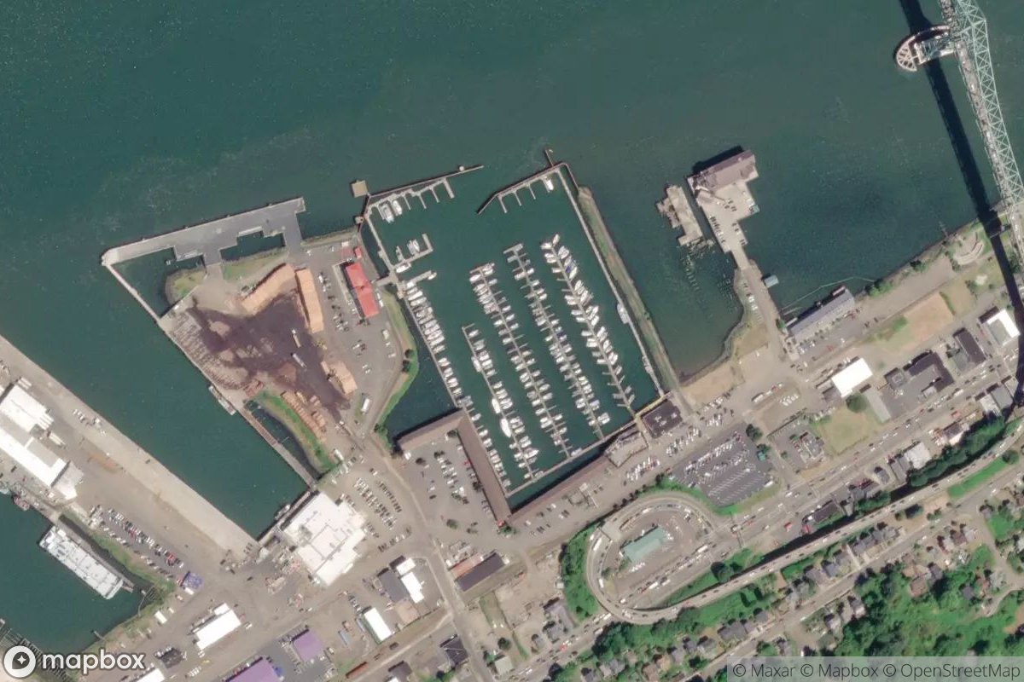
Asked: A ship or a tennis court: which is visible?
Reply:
ship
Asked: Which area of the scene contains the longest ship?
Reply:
bottom left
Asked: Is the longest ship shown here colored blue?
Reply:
No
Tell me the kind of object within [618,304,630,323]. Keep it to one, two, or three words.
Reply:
boat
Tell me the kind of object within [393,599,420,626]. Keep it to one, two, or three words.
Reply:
shed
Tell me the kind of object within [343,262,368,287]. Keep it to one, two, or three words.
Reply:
building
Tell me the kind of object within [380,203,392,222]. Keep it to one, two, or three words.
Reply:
boat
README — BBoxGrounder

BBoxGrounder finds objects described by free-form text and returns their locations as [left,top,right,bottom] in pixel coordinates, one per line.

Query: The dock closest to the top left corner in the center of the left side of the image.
[101,259,161,320]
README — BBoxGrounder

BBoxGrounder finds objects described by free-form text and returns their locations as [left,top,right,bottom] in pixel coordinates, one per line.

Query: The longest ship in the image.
[36,527,122,599]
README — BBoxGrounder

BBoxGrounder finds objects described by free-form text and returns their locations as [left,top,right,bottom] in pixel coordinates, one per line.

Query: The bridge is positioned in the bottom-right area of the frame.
[583,422,1024,621]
